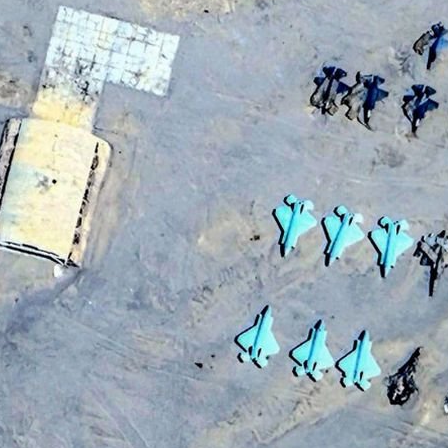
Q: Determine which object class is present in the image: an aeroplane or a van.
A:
aeroplane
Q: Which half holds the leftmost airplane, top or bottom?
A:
bottom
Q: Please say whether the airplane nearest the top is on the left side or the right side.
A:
right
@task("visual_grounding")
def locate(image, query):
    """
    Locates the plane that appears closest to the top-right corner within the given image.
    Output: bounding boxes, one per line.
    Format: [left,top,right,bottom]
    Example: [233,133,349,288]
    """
[414,21,448,68]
